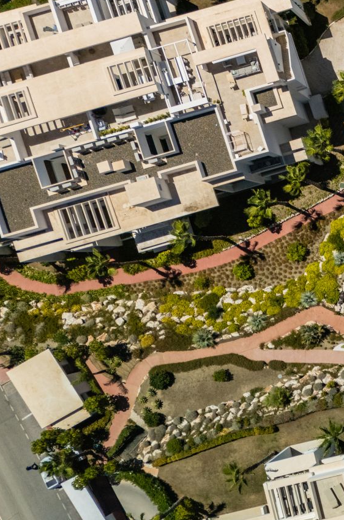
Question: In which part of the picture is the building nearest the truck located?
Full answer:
The building nearest the truck sits in the bottom left section of the image.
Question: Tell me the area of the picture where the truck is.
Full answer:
You can find the truck in the bottom left area of the picture.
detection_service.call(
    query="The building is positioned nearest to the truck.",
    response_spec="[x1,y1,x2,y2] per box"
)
[7,347,97,434]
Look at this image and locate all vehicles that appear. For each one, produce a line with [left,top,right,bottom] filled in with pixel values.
[44,466,105,520]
